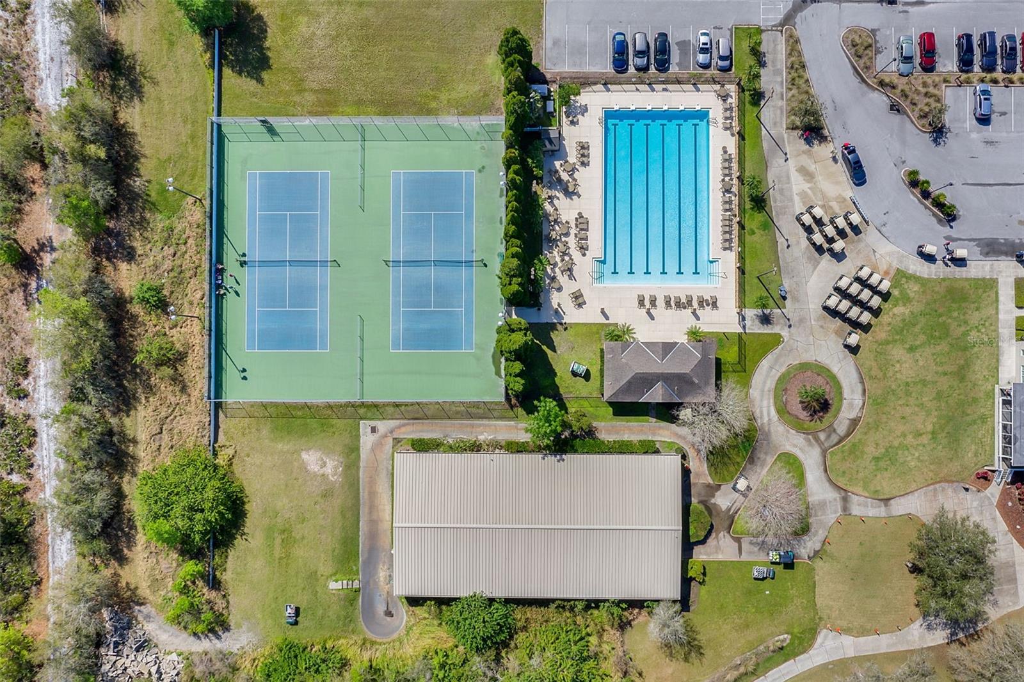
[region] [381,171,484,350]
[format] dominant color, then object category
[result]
blue tennis court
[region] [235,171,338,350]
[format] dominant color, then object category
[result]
blue tennis court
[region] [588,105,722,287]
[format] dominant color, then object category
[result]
blue swimming pool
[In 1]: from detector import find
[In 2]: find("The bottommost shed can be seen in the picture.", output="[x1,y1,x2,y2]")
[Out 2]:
[393,452,683,601]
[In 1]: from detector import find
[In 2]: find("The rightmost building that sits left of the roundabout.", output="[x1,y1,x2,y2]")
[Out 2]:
[604,341,716,402]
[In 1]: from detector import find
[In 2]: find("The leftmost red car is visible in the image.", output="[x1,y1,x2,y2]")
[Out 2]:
[917,34,936,68]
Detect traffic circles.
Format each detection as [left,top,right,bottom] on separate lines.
[773,362,844,432]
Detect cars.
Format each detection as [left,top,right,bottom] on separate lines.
[954,34,974,72]
[1018,33,1024,70]
[998,35,1018,73]
[695,31,713,69]
[895,38,913,75]
[653,34,671,72]
[840,144,864,183]
[917,34,936,68]
[612,34,629,72]
[632,34,650,71]
[715,37,733,73]
[977,33,998,70]
[972,83,993,120]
